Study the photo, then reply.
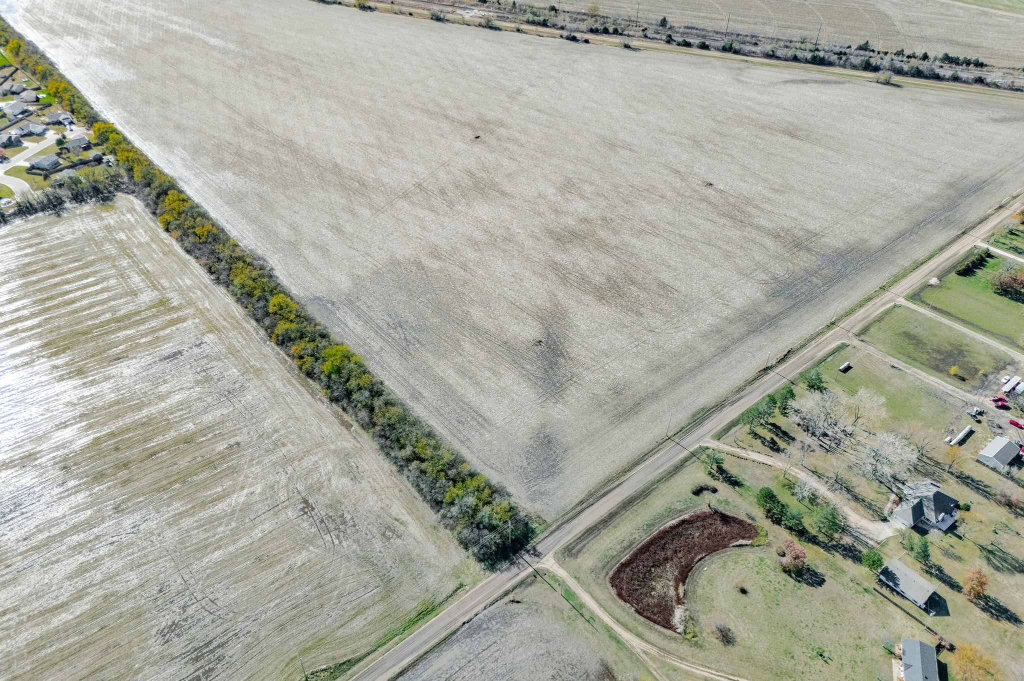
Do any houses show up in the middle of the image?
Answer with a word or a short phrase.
No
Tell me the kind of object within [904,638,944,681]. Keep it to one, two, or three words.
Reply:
house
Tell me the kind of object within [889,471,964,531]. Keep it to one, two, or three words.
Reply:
house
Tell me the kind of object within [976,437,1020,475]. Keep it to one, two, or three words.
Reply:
shed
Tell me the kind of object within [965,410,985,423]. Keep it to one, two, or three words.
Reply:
vehicle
